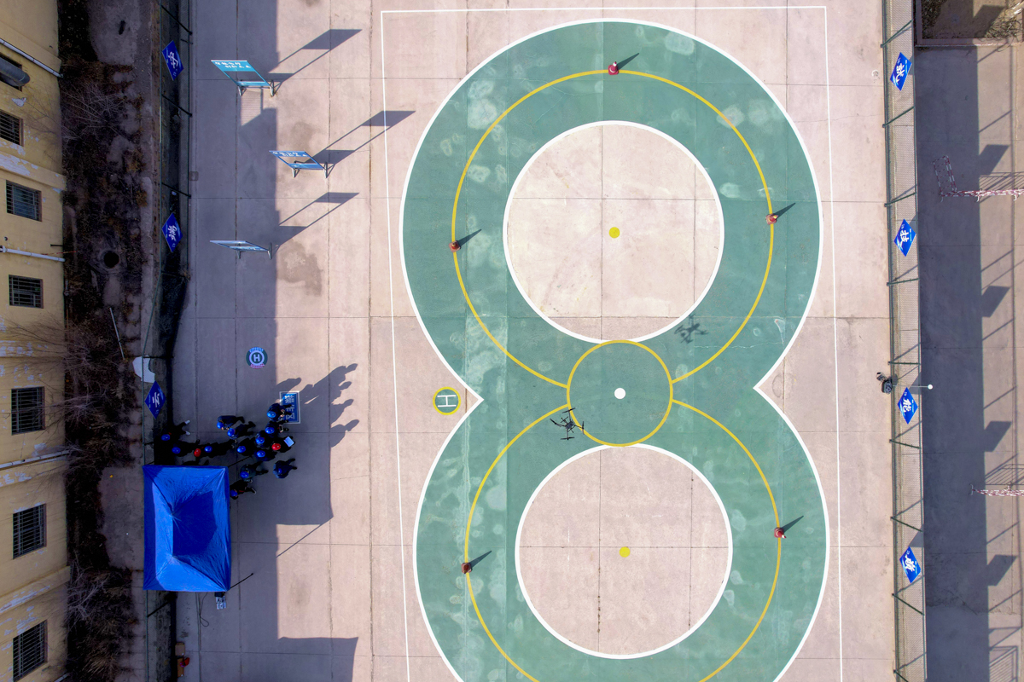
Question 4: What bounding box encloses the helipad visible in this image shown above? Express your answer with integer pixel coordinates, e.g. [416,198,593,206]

[432,387,460,415]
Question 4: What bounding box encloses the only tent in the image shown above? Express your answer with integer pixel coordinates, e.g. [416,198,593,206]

[142,456,252,593]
